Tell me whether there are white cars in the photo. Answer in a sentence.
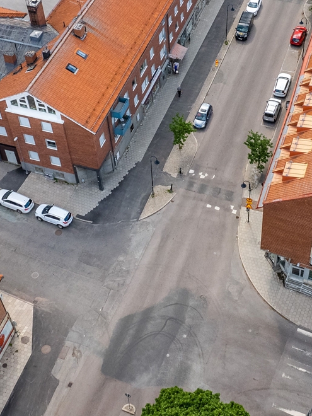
Yes, looking at the shot, I can spot a white car.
